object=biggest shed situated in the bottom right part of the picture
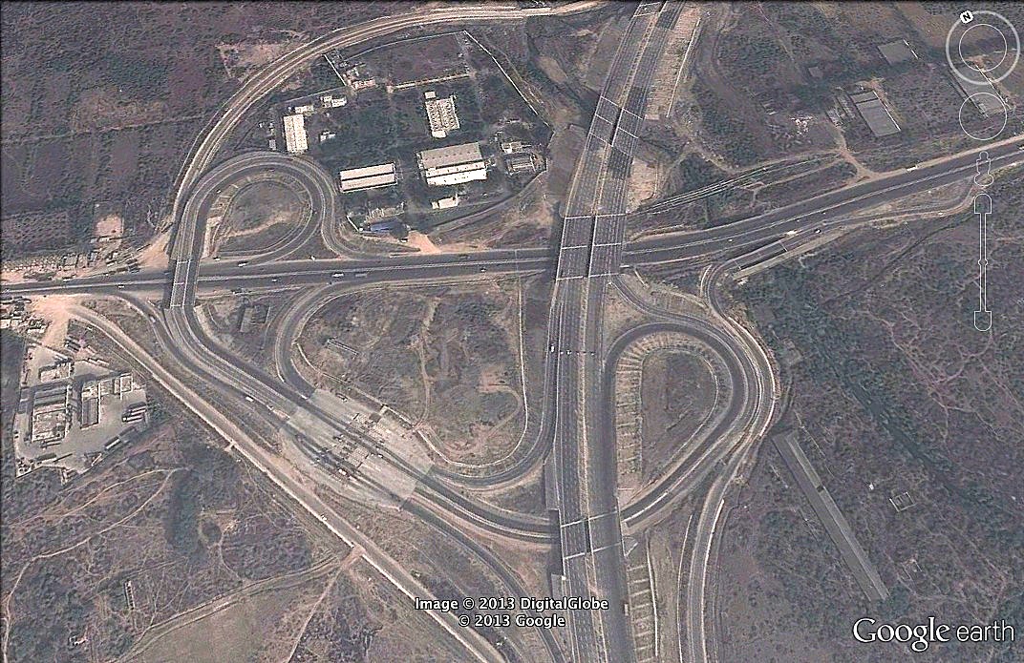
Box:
[773,431,884,607]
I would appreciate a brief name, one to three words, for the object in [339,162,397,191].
building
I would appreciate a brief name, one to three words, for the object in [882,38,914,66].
shed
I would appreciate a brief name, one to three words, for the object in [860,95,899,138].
shed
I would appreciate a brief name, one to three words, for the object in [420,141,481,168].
building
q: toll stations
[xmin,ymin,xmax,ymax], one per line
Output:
[276,389,432,509]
